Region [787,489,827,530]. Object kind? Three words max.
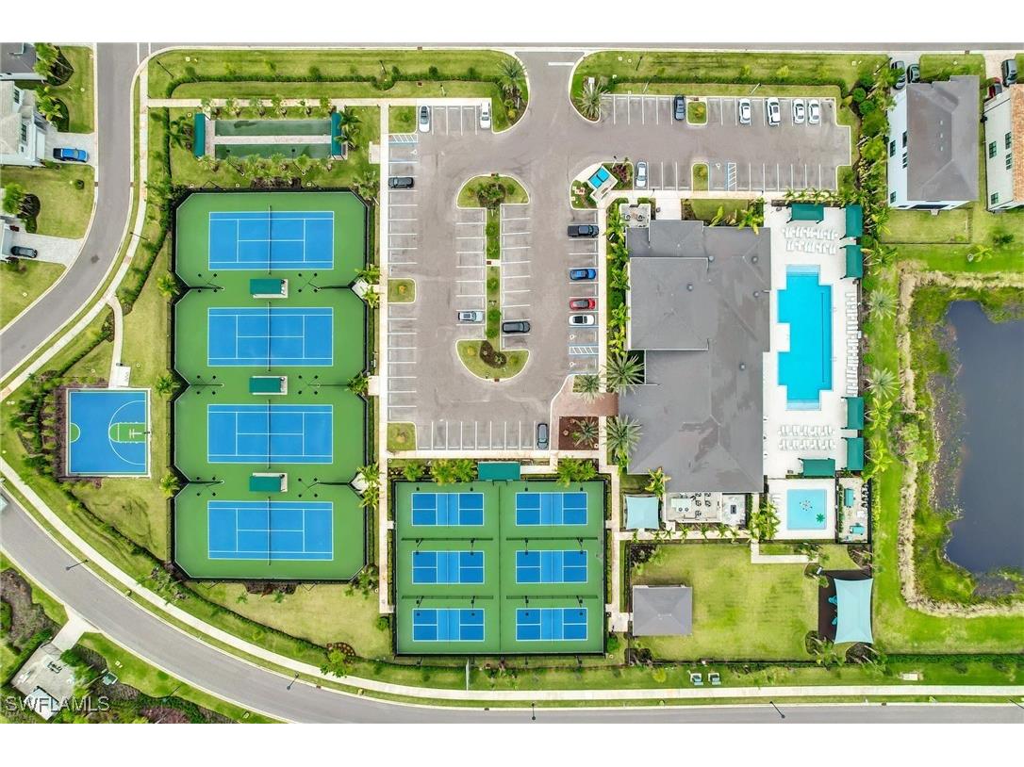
swimming pool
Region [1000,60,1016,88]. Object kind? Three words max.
car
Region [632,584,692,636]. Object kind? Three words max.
building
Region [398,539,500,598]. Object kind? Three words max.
sports court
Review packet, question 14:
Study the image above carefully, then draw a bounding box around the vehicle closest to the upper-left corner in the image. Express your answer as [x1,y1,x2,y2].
[53,148,89,163]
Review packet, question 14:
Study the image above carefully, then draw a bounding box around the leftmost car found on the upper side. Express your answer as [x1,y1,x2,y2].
[11,246,40,258]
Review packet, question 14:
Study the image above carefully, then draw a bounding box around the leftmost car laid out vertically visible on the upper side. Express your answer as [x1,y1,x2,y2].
[417,105,430,132]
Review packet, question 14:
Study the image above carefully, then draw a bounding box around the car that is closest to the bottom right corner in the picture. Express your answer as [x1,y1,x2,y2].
[536,423,549,448]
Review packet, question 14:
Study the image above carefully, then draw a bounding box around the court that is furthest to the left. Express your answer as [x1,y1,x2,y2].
[66,388,151,477]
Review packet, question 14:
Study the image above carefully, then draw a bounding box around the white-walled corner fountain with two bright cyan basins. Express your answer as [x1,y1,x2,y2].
[587,169,616,198]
